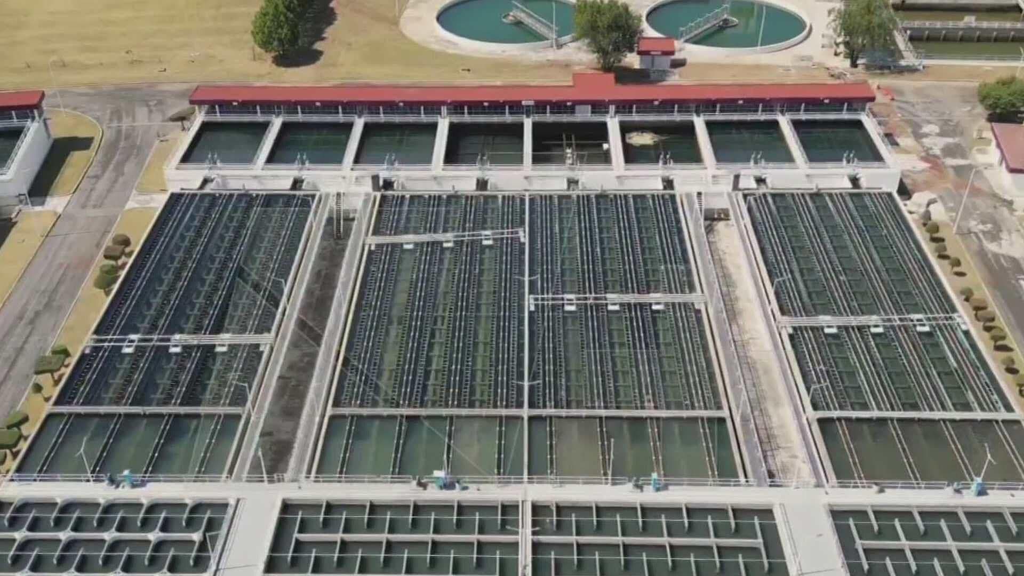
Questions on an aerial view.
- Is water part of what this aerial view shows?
Yes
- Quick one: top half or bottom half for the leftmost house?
top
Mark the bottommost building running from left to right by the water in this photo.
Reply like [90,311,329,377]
[165,71,900,196]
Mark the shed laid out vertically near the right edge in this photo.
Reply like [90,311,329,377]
[990,123,1024,192]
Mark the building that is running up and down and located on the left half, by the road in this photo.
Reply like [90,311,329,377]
[0,83,68,232]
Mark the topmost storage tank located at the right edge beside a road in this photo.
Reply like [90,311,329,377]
[738,193,1024,486]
